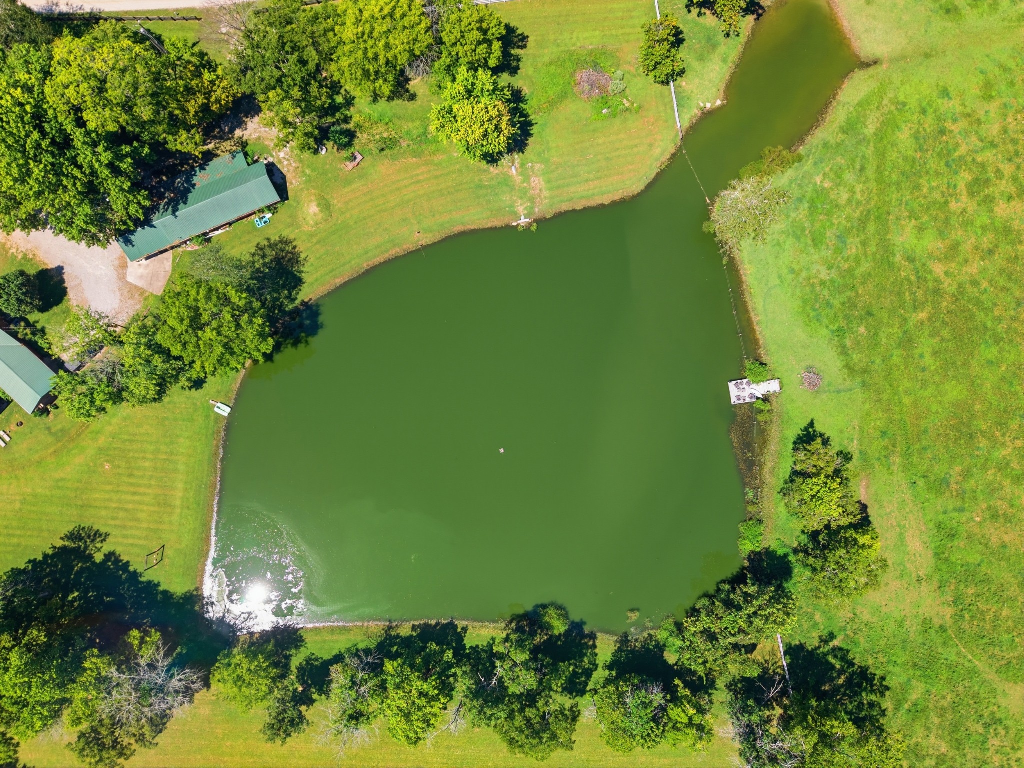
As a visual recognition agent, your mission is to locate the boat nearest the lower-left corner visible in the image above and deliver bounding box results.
[215,403,232,416]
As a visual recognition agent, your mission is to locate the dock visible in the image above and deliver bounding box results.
[727,379,781,405]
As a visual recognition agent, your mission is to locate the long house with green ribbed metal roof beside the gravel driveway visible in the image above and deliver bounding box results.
[114,152,281,263]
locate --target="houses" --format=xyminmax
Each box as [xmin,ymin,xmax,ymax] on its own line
[0,324,62,417]
[114,152,281,263]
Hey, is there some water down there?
Yes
